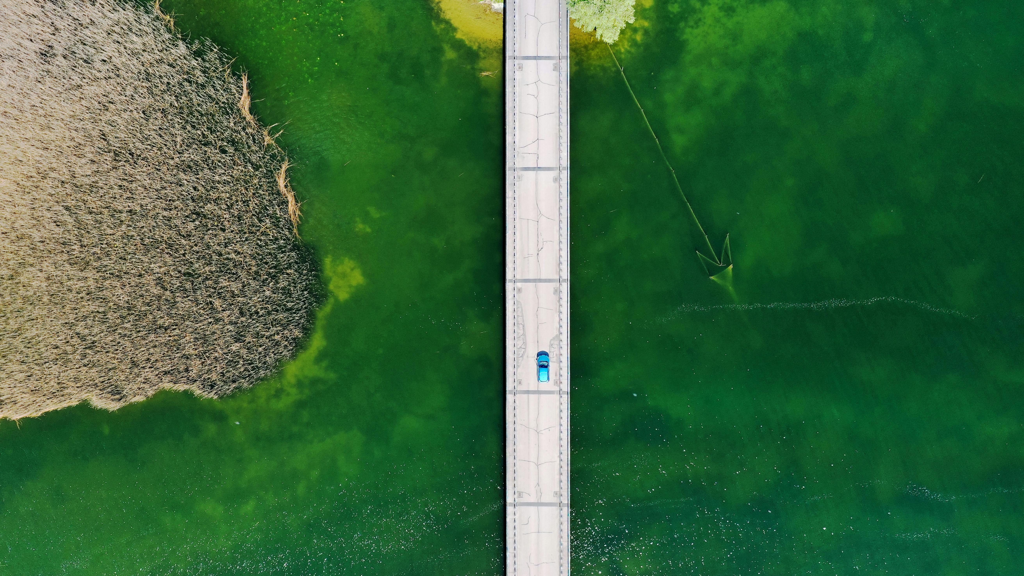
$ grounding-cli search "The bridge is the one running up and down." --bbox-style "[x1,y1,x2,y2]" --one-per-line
[507,0,570,576]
